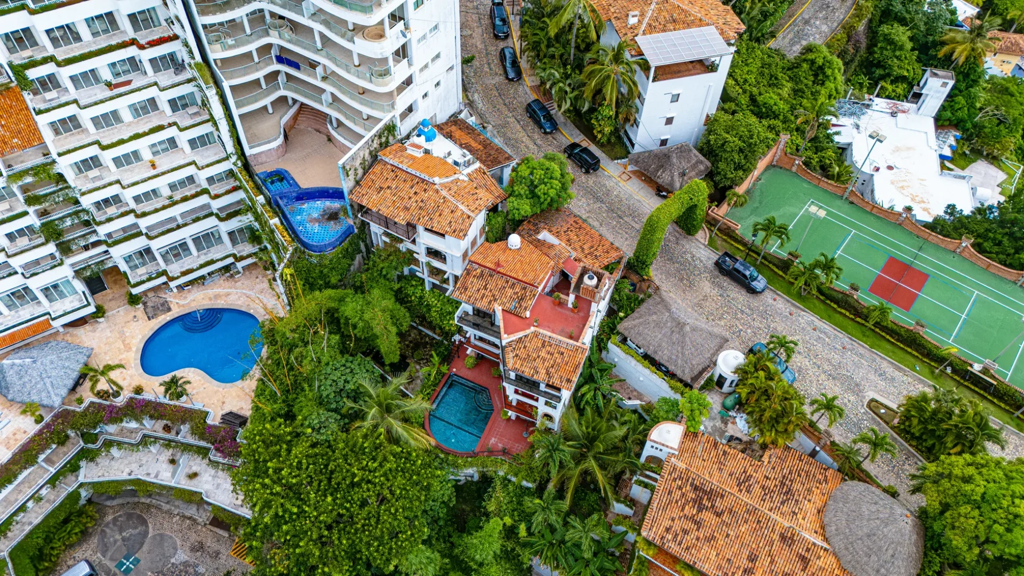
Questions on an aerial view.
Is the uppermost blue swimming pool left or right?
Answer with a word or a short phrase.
left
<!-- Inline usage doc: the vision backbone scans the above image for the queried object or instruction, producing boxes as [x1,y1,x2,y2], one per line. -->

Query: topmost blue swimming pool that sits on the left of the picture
[265,169,301,195]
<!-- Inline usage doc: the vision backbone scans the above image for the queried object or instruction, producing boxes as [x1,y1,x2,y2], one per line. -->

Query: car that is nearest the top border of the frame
[487,0,512,36]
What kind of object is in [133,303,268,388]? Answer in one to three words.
swimming pool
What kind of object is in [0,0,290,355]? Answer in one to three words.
building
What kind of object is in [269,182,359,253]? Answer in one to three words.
swimming pool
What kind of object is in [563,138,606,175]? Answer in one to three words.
car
